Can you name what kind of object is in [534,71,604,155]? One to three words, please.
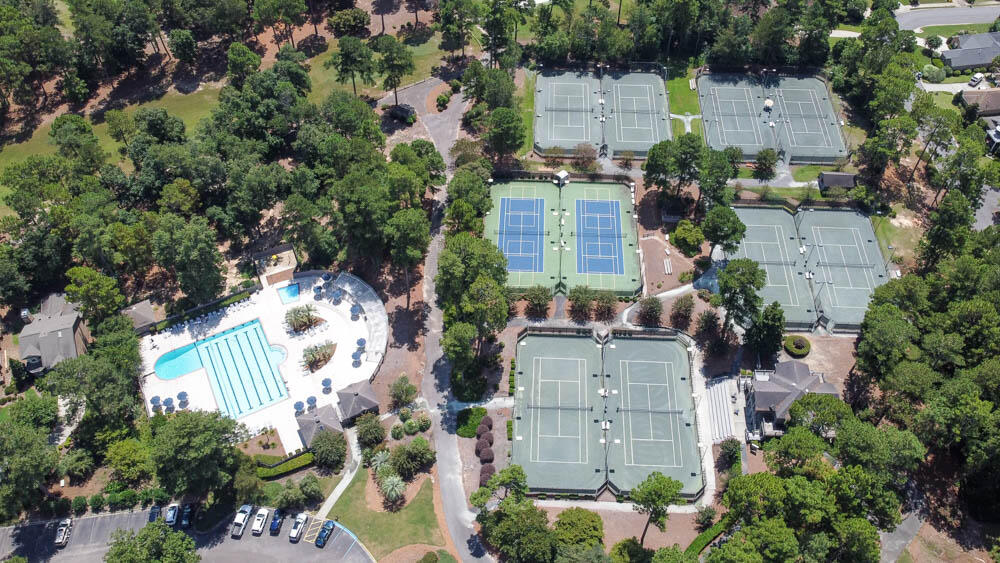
tennis court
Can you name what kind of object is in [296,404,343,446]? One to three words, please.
building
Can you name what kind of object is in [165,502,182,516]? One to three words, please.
car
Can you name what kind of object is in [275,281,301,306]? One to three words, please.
swimming pool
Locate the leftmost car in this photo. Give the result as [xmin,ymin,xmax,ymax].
[51,518,74,545]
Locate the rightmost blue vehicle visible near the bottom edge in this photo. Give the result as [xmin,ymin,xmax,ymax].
[315,520,335,547]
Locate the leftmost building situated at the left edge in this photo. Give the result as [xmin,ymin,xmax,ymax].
[15,287,98,385]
